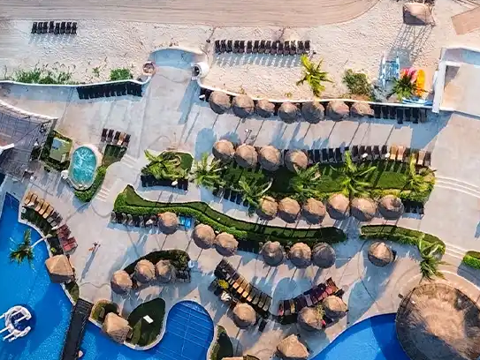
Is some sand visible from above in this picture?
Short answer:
Yes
